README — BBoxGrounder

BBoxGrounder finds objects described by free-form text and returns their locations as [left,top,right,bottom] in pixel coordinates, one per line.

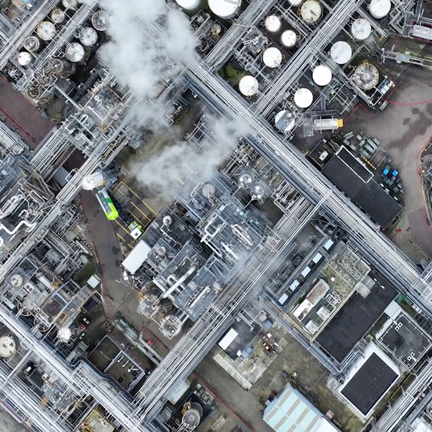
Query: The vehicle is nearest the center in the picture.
[116,205,144,241]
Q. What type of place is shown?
industrial area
